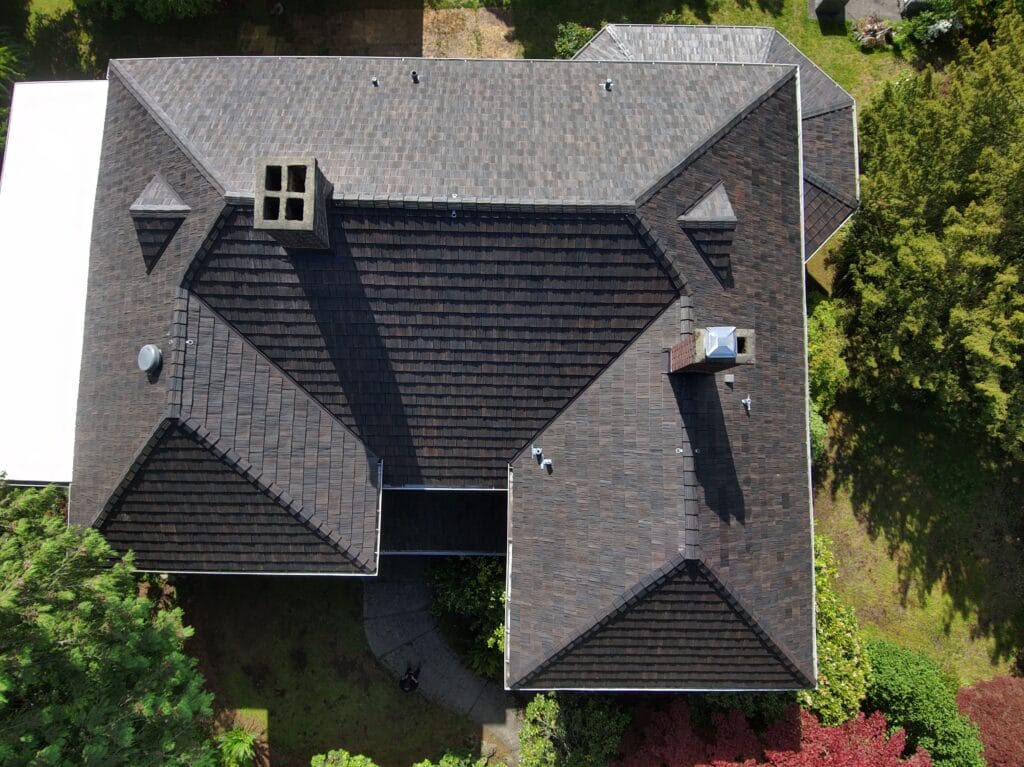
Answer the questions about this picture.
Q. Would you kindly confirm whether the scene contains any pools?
No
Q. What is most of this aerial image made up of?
buildings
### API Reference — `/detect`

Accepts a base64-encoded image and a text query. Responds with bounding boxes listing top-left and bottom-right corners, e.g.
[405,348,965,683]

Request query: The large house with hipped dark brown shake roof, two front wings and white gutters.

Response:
[0,22,863,694]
